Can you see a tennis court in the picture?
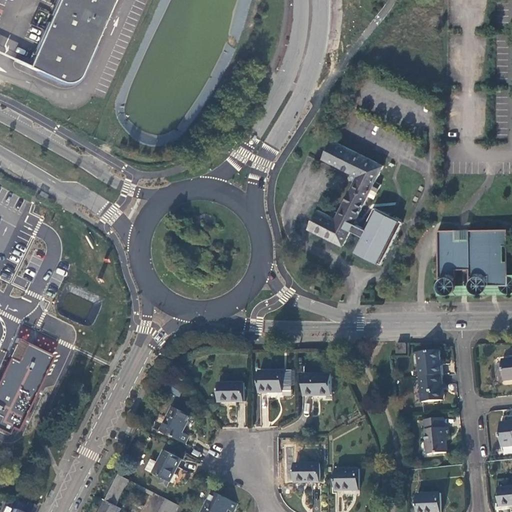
No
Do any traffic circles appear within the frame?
Yes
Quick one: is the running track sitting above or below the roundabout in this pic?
above it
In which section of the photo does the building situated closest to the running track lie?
top left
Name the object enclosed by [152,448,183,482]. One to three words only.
house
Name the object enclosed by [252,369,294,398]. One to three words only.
house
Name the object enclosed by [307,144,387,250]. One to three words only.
building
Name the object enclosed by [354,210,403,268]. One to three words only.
building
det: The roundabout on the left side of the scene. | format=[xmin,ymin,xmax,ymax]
[130,178,268,320]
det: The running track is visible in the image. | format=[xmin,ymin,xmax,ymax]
[114,0,252,147]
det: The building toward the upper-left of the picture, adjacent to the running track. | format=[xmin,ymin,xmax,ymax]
[32,0,122,86]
